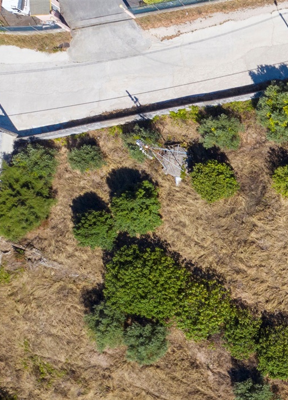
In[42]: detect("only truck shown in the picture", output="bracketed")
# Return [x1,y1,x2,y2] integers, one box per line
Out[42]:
[0,0,32,24]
